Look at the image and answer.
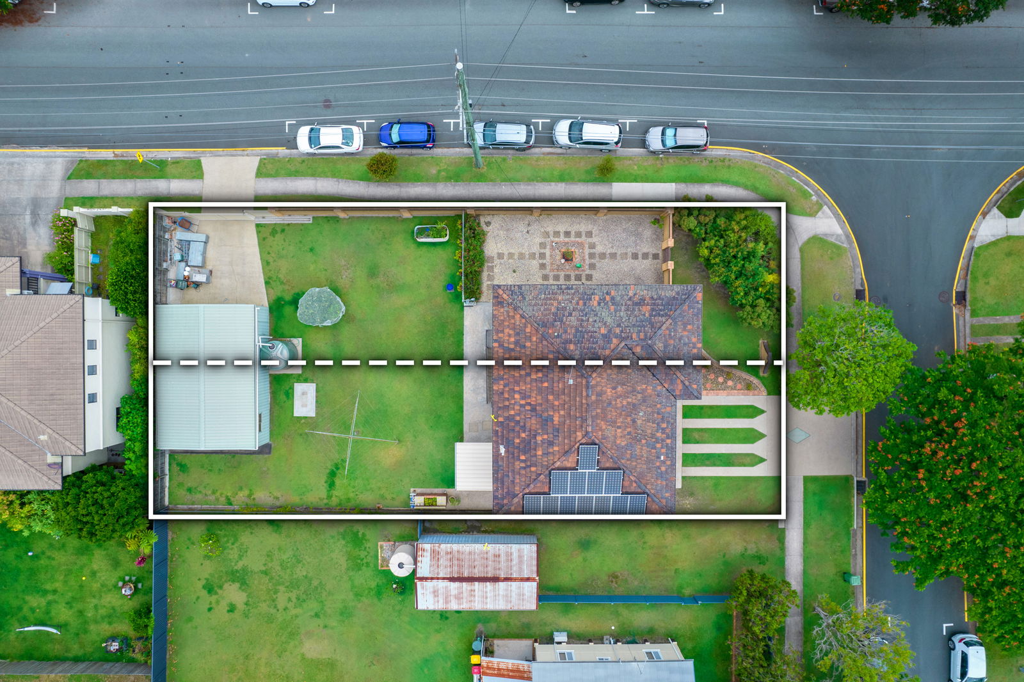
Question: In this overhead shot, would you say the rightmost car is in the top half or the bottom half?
bottom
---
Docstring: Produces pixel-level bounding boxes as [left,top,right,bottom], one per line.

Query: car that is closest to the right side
[947,632,988,682]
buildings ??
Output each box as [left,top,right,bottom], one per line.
[0,255,125,491]
[532,640,694,682]
[414,535,539,611]
[155,302,269,452]
[487,283,704,523]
